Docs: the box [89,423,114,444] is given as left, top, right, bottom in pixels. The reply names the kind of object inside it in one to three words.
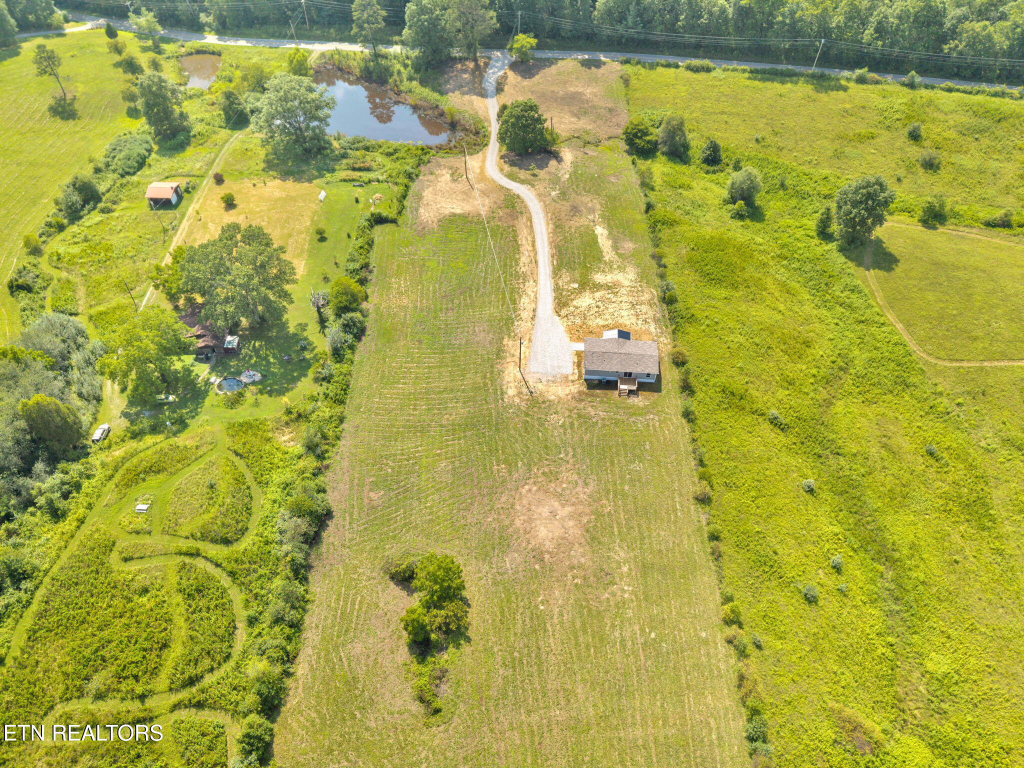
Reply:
car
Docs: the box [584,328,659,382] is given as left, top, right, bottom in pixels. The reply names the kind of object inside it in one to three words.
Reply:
house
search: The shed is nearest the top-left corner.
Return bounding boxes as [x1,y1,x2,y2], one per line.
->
[146,186,178,204]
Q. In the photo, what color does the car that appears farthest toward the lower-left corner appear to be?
white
